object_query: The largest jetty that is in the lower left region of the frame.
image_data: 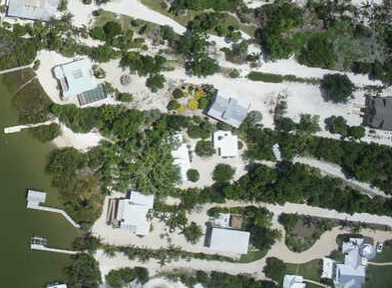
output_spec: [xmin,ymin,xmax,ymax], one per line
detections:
[26,190,80,229]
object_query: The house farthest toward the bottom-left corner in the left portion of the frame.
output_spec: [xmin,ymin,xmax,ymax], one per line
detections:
[104,191,155,235]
